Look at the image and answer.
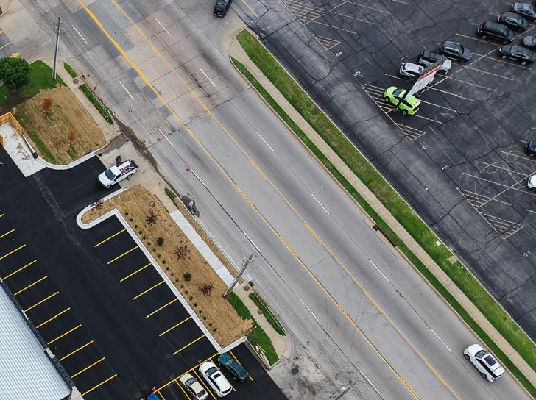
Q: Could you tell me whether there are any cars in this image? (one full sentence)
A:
Yes, a car is visible in the scene.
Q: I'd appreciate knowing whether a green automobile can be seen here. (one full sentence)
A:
Yes, the picture does show a green automobile.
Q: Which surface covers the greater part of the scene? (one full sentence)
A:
The bulk of the photo consists of paved ground.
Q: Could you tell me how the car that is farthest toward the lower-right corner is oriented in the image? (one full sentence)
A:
The car that is farthest toward the lower-right corner is oriented on a diagonal.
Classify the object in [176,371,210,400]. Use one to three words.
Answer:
car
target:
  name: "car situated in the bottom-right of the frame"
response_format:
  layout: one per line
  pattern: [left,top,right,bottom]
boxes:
[464,345,504,382]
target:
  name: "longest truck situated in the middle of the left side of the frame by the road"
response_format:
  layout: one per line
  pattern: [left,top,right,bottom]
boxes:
[97,159,140,190]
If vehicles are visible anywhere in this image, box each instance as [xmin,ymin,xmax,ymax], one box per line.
[499,45,536,66]
[527,175,536,191]
[437,39,473,63]
[97,159,140,190]
[476,20,514,47]
[214,0,231,17]
[495,8,530,33]
[524,138,536,155]
[176,371,210,400]
[383,90,421,114]
[146,391,163,400]
[510,1,536,24]
[520,36,536,51]
[398,59,426,77]
[198,362,232,398]
[215,351,252,386]
[464,345,504,382]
